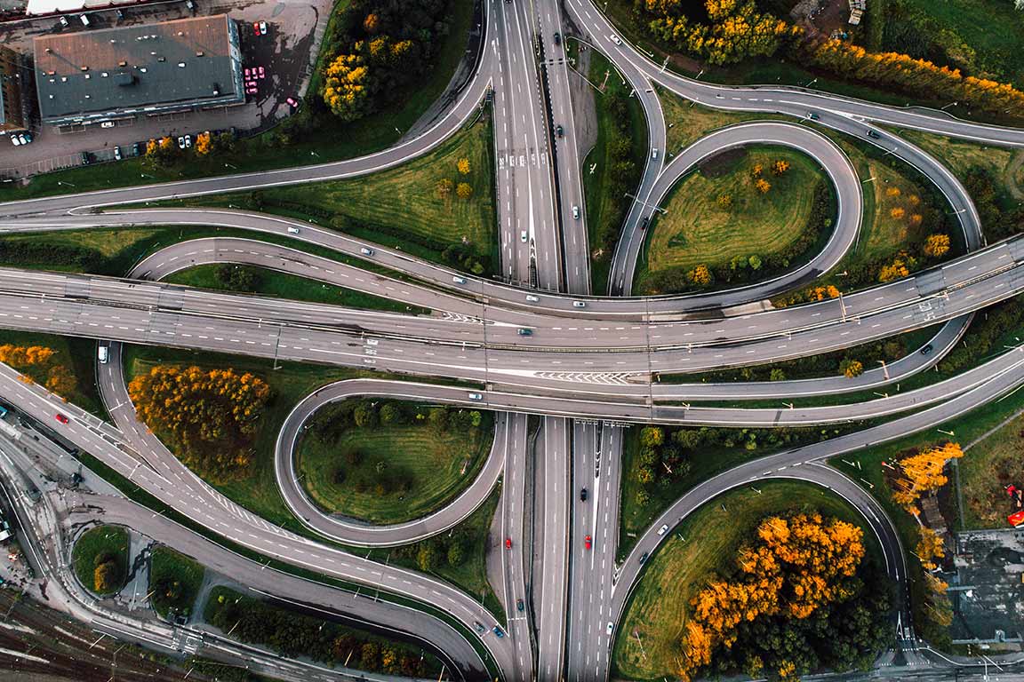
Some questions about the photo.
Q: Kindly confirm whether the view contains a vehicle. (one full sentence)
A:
Yes, looking at the shot, I can spot a vehicle.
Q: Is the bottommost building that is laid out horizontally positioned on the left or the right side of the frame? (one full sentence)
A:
The bottommost building that is laid out horizontally is on the left side of the image.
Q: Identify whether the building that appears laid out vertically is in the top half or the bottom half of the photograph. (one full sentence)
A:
Seen from above, the building that appears laid out vertically lies in the top half of the view.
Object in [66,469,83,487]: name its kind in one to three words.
vehicle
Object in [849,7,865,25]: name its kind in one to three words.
vehicle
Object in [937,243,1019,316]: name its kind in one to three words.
overpass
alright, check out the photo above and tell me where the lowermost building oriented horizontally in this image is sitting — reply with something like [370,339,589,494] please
[33,13,246,127]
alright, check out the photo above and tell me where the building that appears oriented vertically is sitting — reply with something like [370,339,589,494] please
[0,47,39,138]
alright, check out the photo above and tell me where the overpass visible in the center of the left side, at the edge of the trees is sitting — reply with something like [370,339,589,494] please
[89,278,165,348]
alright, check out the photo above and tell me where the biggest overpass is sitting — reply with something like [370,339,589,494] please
[430,279,659,421]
